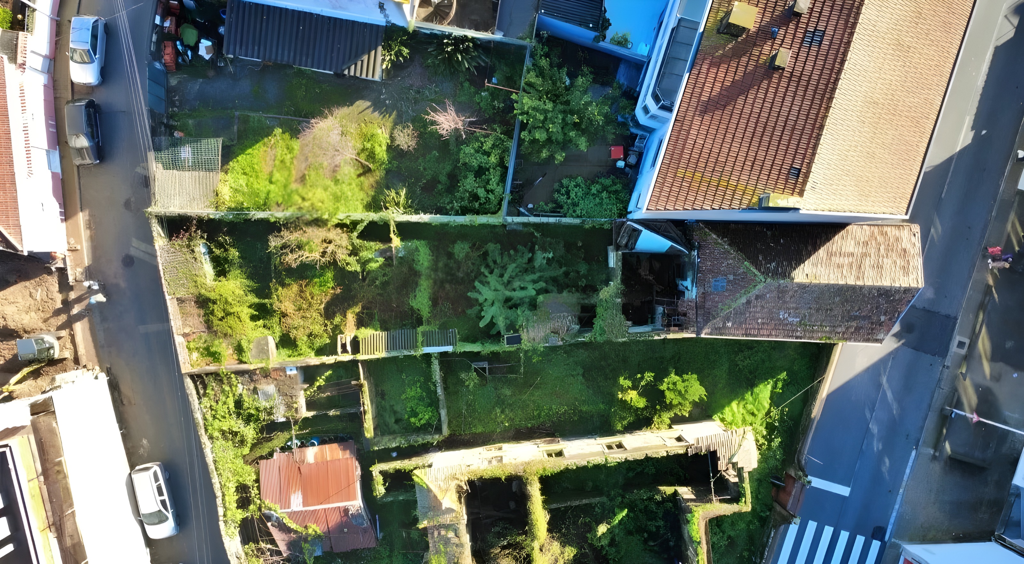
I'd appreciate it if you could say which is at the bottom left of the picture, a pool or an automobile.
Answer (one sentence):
There is an automobile at the bottom left of the picture.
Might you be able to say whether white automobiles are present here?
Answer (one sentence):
Yes, there's a white automobile down there.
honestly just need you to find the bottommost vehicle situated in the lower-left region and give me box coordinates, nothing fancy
[132,463,180,538]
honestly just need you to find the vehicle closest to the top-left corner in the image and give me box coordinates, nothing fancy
[69,15,110,87]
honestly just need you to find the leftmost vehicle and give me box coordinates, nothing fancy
[0,332,71,401]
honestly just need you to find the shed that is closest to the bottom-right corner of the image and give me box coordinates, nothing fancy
[767,468,809,514]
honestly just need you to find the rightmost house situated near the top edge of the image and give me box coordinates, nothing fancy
[624,0,979,222]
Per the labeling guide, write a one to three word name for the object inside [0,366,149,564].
building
